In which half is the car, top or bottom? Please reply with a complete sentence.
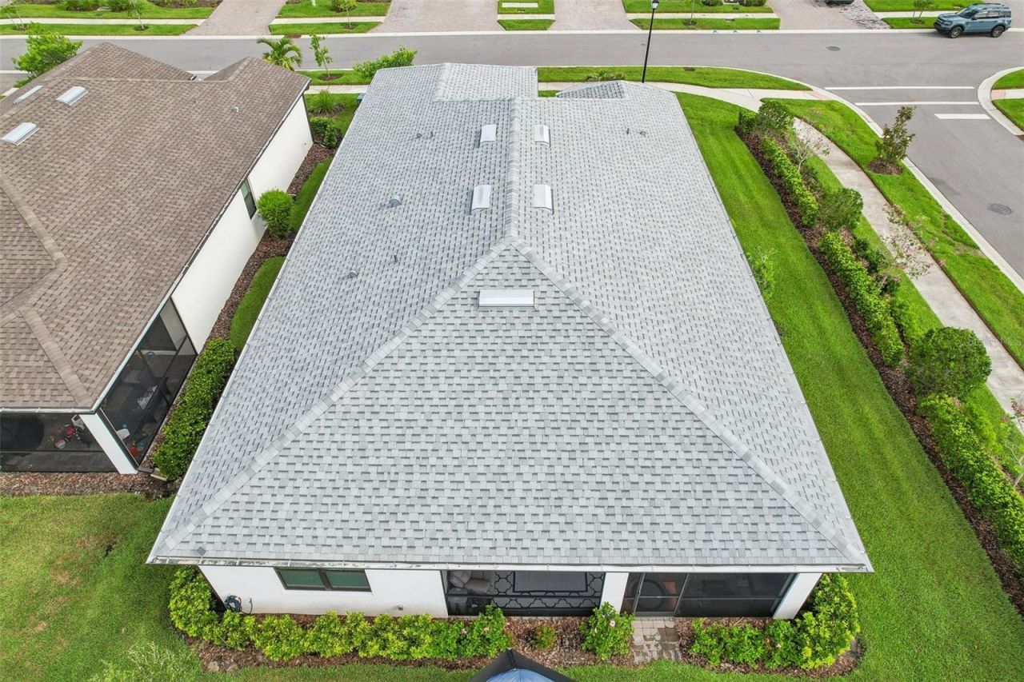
The top half of the photo is where the car is.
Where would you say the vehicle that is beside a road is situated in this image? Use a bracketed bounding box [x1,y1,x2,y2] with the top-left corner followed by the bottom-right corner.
[931,0,1022,38]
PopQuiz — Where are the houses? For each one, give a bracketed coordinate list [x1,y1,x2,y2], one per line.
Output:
[0,42,327,473]
[145,62,875,619]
